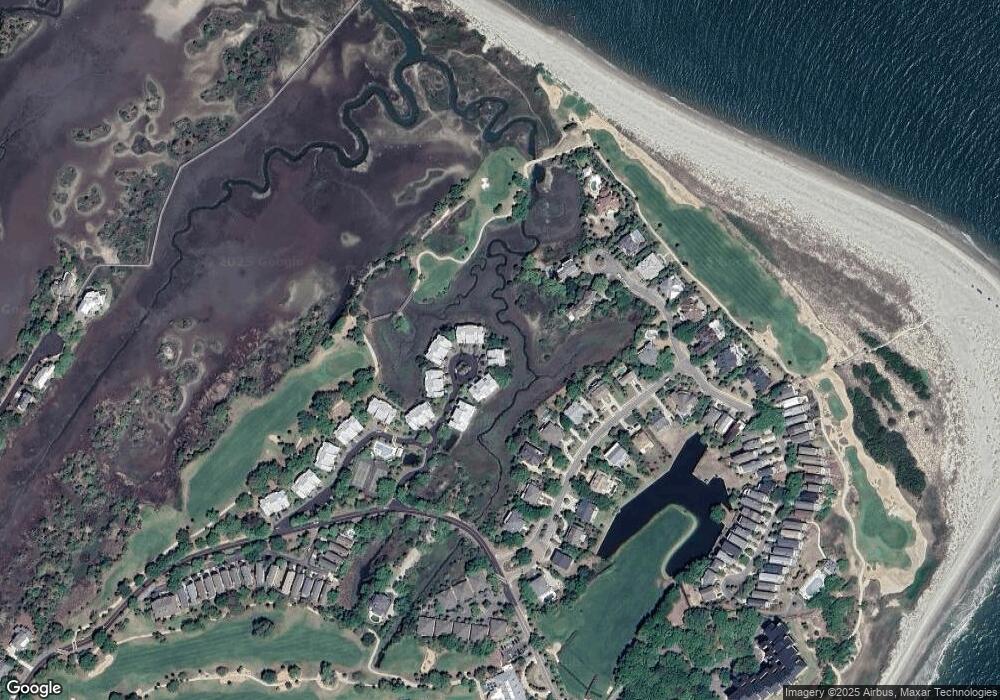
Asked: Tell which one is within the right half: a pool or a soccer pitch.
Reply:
pool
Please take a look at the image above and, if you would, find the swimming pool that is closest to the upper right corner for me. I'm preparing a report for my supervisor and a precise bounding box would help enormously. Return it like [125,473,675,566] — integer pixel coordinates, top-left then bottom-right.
[588,174,602,197]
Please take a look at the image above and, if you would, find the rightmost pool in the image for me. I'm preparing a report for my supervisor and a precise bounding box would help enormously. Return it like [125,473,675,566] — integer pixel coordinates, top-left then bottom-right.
[800,569,825,598]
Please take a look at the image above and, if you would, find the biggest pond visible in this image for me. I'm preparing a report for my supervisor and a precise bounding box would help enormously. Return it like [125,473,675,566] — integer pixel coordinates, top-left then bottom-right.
[596,433,732,576]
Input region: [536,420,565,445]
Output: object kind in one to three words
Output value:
house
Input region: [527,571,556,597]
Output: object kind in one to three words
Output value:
house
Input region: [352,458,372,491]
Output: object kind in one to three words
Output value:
tennis court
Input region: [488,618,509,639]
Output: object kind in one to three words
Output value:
building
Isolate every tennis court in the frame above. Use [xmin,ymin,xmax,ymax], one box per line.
[366,465,389,494]
[352,458,372,491]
